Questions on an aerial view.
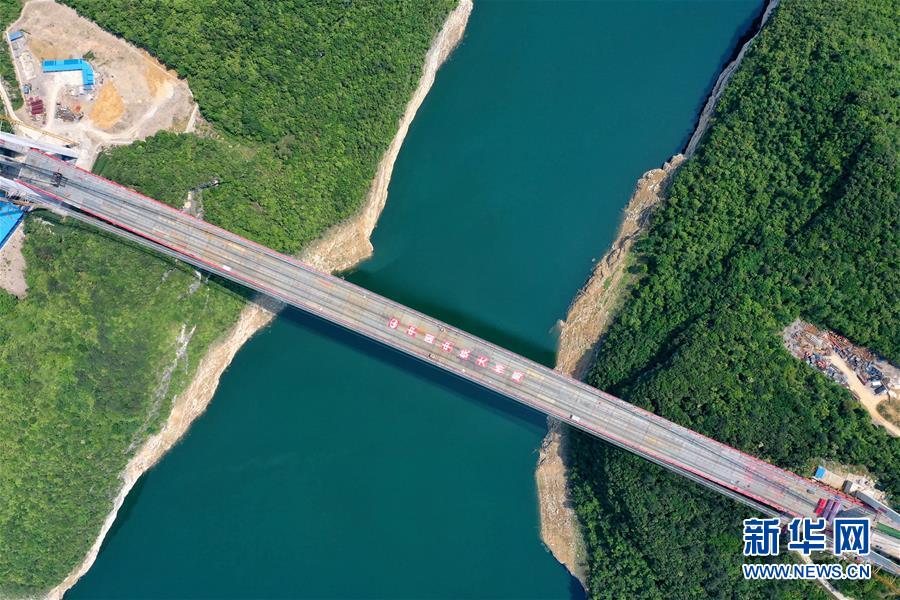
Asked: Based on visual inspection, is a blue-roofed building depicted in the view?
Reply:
Yes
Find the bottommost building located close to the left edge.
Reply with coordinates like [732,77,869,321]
[0,203,28,251]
